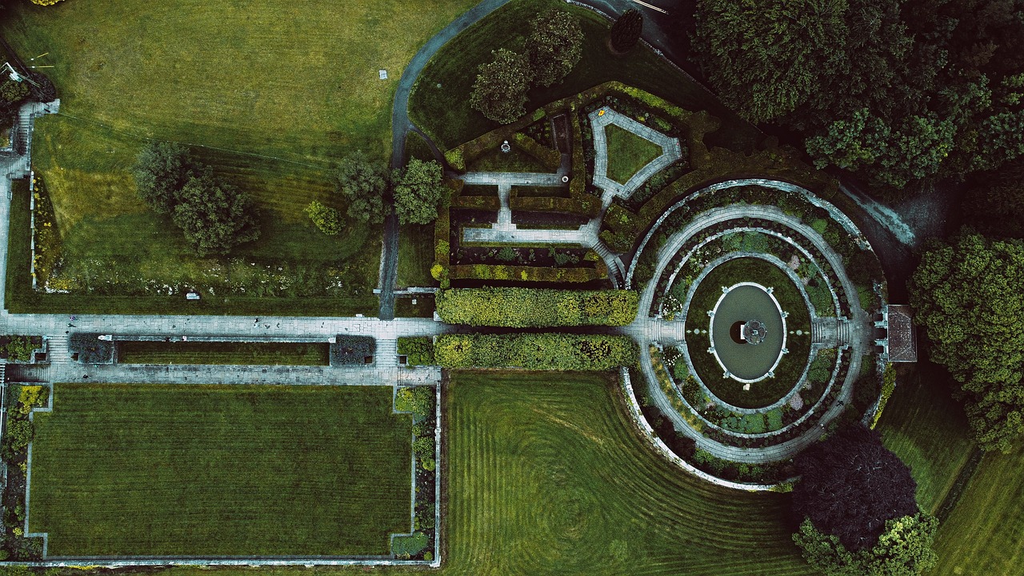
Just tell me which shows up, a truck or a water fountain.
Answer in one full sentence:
There is a water fountain in the scene.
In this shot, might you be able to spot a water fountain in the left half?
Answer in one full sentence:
No, no water fountain appears in the left half.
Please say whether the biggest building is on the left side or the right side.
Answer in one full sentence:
The biggest building appears in the right half of the scene.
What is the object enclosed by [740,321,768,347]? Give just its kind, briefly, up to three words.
fountain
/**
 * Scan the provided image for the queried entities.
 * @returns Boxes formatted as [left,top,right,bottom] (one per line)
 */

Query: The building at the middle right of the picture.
[866,305,917,362]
